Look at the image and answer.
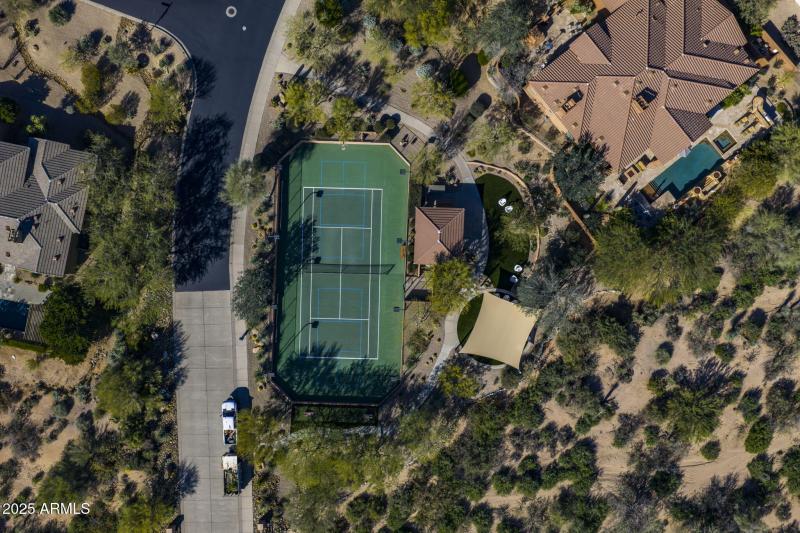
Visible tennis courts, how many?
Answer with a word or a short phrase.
one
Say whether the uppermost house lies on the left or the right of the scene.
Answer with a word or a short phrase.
right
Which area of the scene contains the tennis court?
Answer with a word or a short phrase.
center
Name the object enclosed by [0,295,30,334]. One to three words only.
swimming pool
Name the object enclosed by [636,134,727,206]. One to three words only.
swimming pool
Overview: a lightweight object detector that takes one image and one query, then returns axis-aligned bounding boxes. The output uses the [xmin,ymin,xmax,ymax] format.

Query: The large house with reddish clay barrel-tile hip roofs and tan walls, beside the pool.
[525,0,761,173]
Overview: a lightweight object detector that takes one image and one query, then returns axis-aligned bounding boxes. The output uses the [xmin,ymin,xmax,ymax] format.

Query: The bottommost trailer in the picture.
[217,450,241,501]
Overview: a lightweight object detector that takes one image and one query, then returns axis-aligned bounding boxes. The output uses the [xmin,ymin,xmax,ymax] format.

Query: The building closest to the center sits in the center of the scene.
[413,207,465,264]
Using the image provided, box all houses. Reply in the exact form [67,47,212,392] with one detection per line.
[525,0,761,173]
[0,140,109,275]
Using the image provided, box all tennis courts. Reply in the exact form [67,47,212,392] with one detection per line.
[277,142,409,400]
